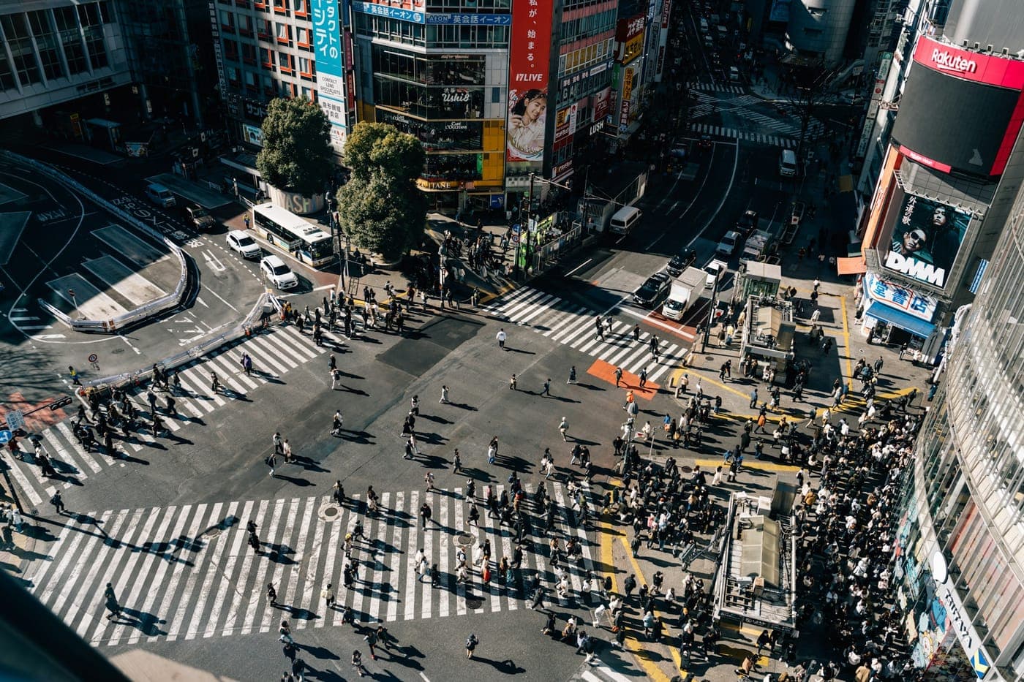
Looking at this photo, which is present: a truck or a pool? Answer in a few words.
truck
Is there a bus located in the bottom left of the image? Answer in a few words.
No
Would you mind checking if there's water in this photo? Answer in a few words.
No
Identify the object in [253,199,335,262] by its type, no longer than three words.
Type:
bus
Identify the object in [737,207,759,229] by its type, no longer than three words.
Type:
car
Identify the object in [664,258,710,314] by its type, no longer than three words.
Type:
truck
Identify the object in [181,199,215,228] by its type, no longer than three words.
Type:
car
